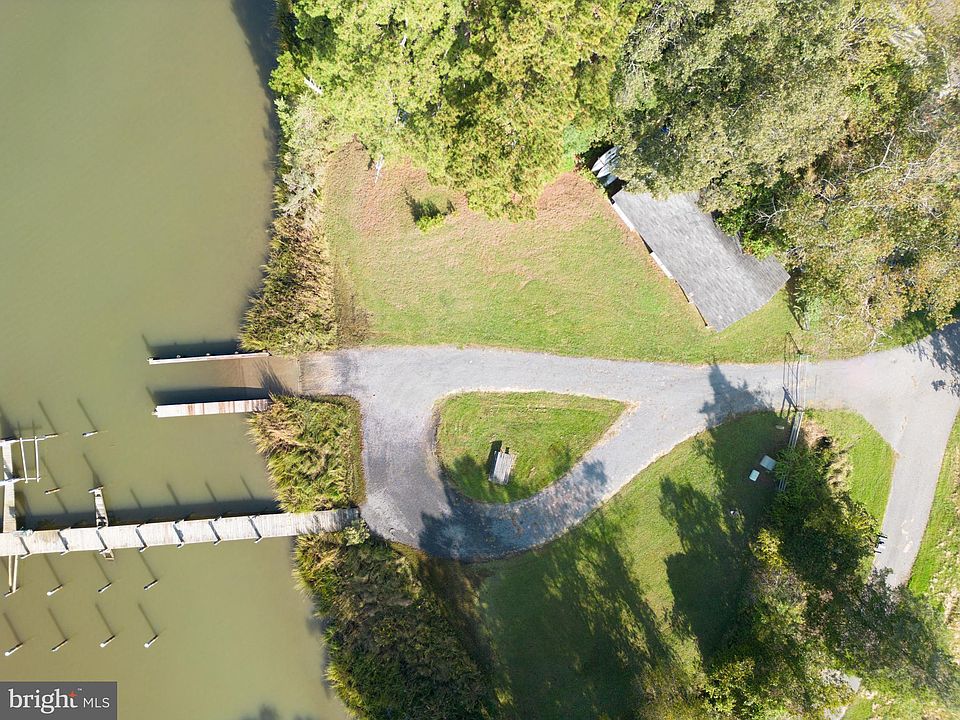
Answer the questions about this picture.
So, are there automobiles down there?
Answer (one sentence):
No, there's no automobile here.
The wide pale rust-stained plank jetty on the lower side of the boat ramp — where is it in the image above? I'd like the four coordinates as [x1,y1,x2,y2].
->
[147,398,273,418]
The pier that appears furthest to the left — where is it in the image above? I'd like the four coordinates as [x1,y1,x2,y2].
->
[0,442,27,532]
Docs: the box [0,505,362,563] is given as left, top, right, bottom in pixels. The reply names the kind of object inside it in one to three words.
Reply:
pier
